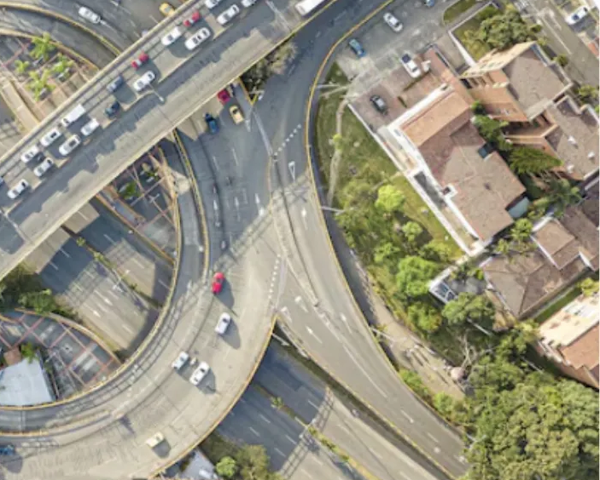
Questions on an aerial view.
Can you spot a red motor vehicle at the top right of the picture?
No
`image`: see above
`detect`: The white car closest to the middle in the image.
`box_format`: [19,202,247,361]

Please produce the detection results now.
[216,313,230,334]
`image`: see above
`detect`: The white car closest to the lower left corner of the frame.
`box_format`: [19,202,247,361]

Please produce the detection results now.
[146,433,165,448]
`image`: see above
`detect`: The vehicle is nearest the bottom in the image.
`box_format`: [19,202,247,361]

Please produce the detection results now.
[195,466,217,480]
